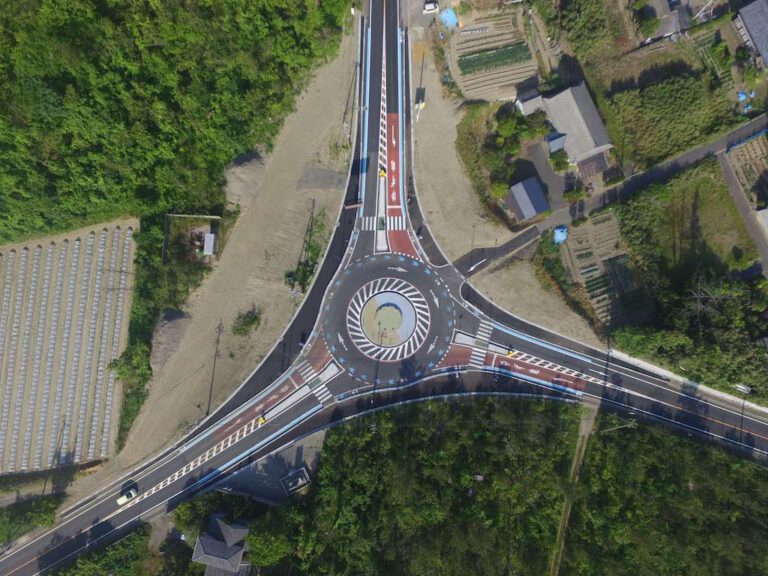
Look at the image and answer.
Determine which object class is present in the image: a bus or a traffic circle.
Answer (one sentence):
I can see a traffic circle in this picture.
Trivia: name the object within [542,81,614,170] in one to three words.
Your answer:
house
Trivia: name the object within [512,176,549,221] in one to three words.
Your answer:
barn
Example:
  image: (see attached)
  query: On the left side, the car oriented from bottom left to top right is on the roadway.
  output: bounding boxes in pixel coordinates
[118,488,139,504]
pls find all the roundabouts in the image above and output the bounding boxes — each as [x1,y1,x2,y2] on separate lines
[322,252,454,386]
